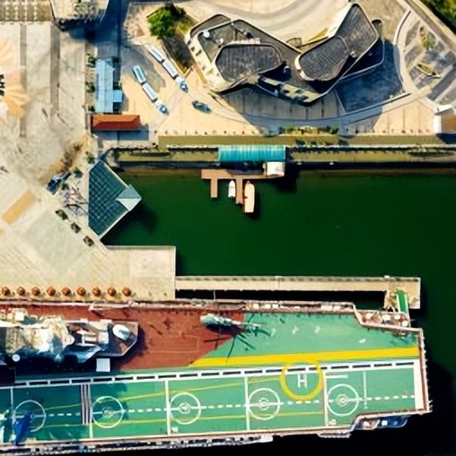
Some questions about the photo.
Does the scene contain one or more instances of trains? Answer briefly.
Yes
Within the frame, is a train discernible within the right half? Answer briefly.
No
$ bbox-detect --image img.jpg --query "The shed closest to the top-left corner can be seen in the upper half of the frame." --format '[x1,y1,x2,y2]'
[95,57,123,112]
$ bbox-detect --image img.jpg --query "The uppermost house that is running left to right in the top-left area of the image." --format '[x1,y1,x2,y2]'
[91,114,140,132]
